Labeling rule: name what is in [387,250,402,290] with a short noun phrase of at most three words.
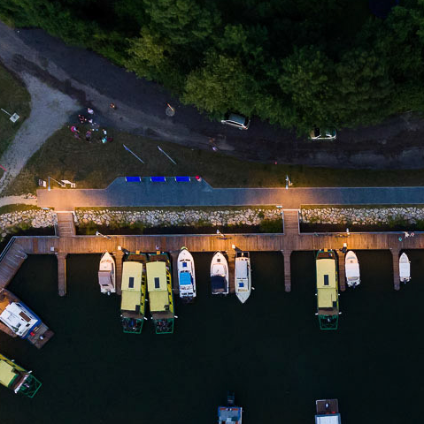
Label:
pier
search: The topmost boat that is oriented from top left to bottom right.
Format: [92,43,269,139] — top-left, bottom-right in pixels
[0,288,54,348]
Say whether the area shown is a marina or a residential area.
marina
